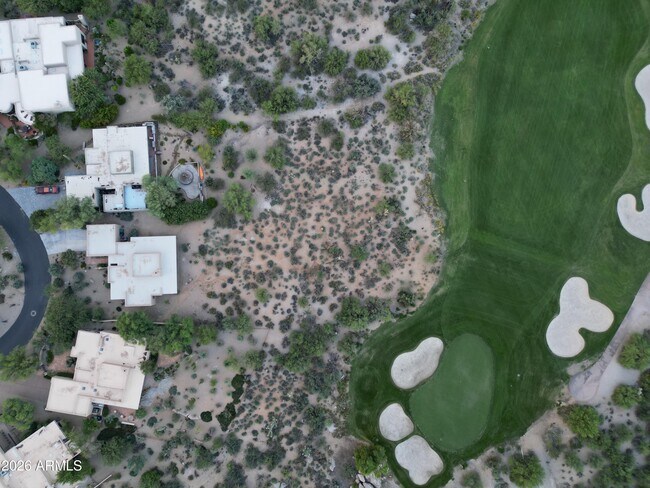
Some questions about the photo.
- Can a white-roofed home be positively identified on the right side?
No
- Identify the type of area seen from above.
golf course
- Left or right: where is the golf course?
right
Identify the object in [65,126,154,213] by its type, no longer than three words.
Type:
house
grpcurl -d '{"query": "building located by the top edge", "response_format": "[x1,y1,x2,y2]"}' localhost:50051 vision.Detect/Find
[0,16,92,128]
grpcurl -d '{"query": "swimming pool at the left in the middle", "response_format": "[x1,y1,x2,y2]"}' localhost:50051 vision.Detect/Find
[128,186,146,209]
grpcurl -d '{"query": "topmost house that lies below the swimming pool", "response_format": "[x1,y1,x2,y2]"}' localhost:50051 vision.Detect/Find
[86,224,182,307]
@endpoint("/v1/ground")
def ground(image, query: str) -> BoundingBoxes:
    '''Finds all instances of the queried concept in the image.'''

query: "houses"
[0,416,76,488]
[0,16,92,128]
[46,328,155,417]
[86,224,182,307]
[65,126,154,213]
